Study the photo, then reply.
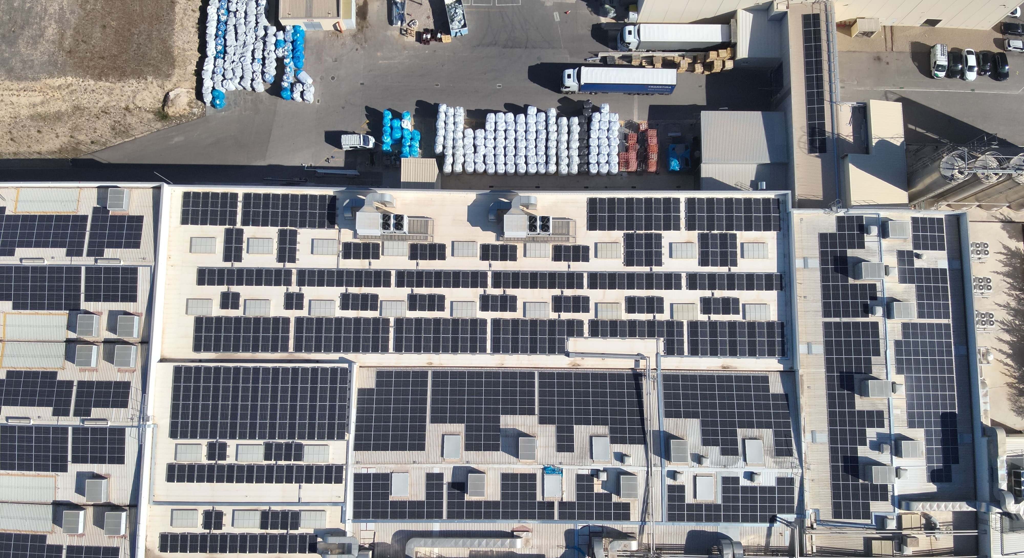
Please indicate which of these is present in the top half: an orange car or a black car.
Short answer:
black car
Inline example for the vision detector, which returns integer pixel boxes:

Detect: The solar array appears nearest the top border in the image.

[803,13,826,153]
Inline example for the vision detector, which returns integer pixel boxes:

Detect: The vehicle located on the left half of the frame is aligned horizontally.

[341,134,376,151]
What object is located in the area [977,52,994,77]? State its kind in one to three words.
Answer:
car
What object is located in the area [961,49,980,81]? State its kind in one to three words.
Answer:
car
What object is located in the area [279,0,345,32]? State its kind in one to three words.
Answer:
building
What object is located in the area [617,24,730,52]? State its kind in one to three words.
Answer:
truck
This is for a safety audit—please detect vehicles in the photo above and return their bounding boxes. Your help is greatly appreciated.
[961,49,980,81]
[977,52,994,77]
[1004,7,1020,19]
[929,43,950,80]
[617,24,730,52]
[561,66,677,95]
[1003,22,1024,37]
[947,51,964,80]
[992,52,1012,83]
[1005,39,1024,53]
[341,134,376,151]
